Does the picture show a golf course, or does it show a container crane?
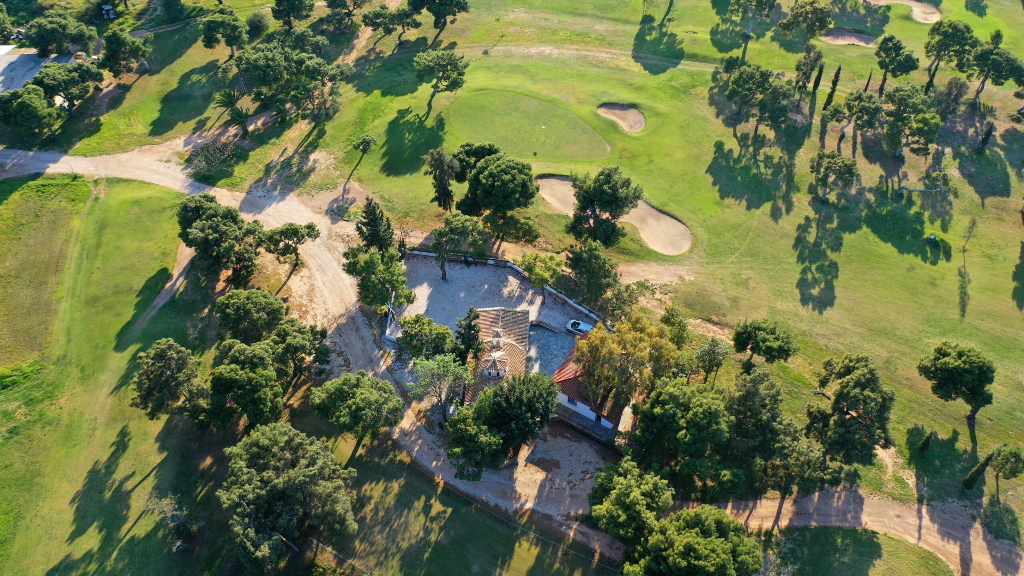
golf course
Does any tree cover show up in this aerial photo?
Yes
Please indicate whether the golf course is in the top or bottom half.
top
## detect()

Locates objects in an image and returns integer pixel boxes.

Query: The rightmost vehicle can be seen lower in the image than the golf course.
[565,321,590,338]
